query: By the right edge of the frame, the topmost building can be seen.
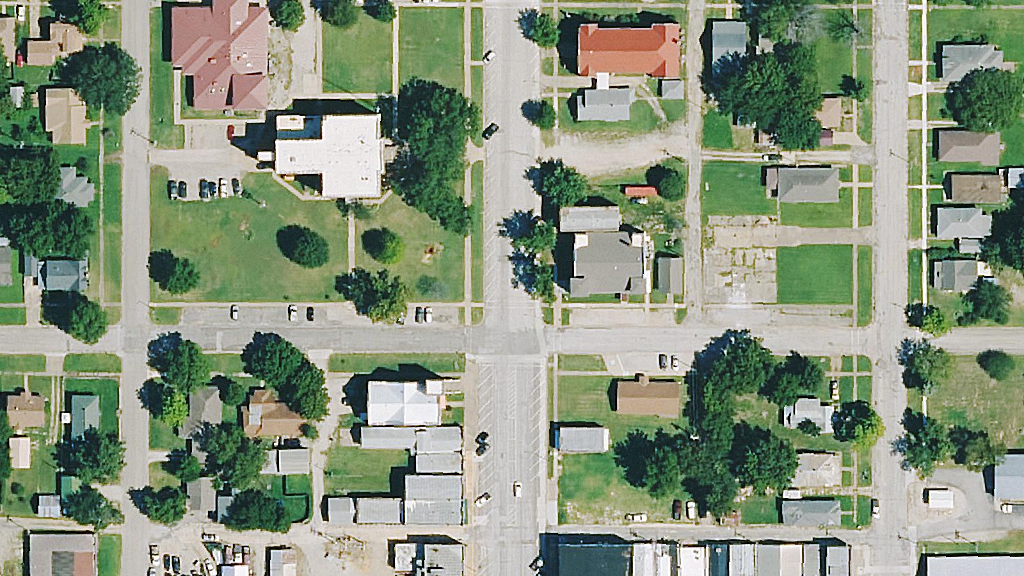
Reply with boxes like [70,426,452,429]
[943,44,1015,80]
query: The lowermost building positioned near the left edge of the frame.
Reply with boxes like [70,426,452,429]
[29,533,95,576]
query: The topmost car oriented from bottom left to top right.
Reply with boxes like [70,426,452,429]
[482,49,497,63]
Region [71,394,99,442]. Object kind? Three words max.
house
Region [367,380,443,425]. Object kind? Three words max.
building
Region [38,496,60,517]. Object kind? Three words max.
shed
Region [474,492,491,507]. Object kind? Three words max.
vehicle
